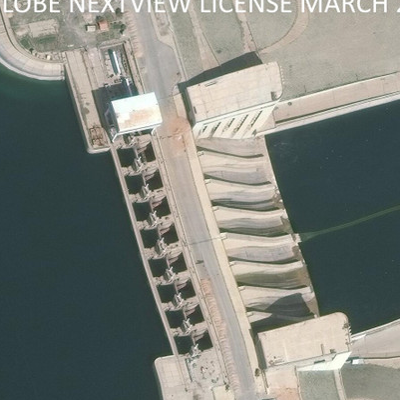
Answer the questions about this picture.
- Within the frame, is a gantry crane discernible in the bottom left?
No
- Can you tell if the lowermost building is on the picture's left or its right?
right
